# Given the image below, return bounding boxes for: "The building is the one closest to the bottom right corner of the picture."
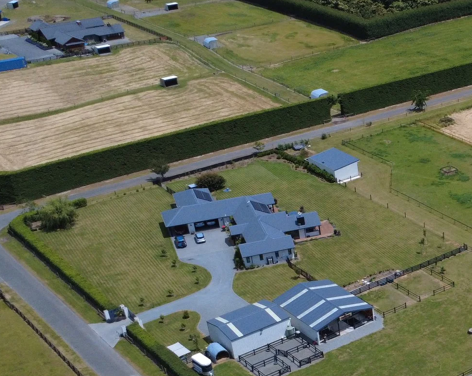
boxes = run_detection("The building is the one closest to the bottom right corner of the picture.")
[273,279,374,345]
